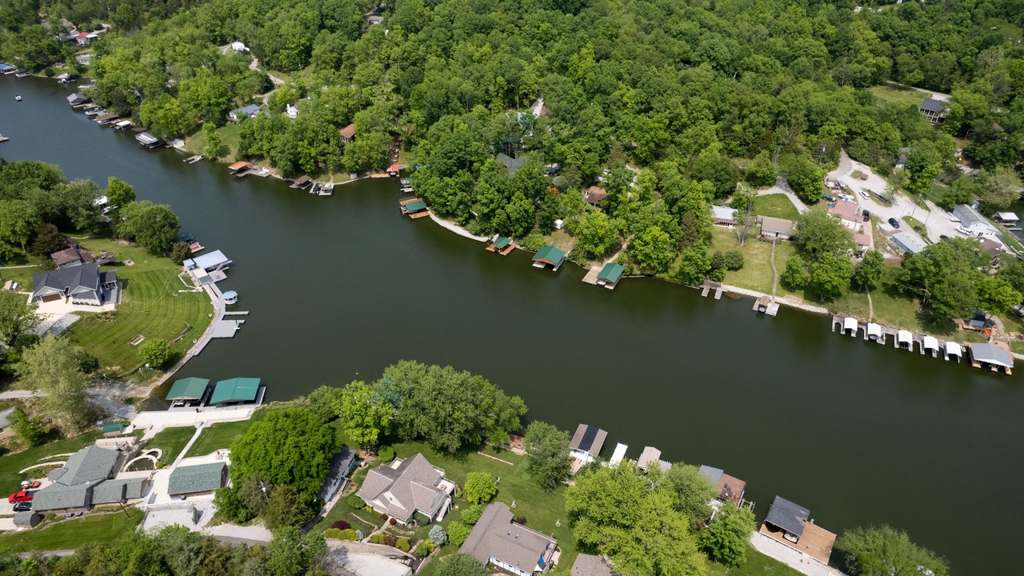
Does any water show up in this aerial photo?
Yes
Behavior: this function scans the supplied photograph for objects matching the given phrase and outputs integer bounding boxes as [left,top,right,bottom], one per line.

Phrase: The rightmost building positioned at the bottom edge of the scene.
[762,496,836,561]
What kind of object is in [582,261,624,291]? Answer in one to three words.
building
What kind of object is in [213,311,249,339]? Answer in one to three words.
pier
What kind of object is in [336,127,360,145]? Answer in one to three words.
house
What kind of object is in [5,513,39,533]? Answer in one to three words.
shed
